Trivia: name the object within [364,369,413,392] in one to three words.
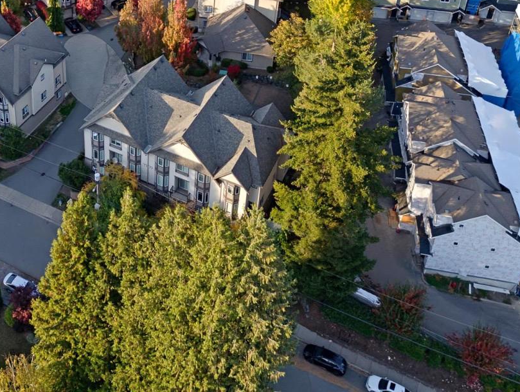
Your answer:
car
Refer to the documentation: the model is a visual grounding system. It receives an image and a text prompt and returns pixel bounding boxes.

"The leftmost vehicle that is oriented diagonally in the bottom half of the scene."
[303,342,351,380]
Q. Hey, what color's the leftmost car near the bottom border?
black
